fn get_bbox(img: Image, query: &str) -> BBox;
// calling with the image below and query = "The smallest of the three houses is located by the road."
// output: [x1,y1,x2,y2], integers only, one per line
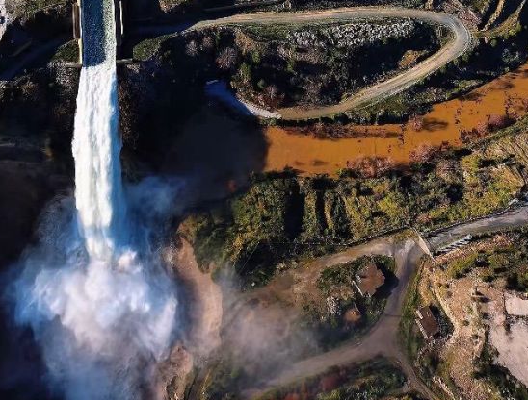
[342,303,364,327]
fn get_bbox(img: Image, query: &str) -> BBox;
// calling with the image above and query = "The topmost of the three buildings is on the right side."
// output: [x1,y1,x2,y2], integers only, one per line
[349,263,389,301]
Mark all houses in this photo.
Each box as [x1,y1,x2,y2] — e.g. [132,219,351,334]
[342,303,364,327]
[349,263,389,301]
[413,304,446,343]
